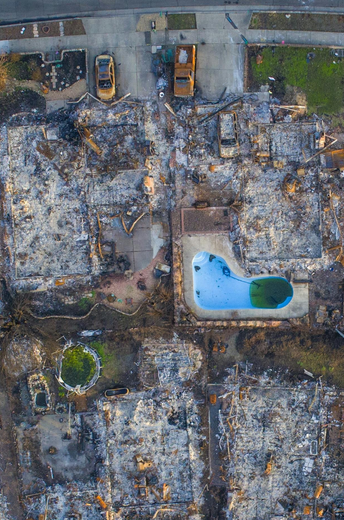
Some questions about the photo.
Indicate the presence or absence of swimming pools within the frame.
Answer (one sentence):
Yes, a swimming pool is visible in the scene.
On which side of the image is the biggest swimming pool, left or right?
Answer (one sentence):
It is on the right.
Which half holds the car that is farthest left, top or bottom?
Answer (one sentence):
It is in the top half that the car that is farthest left appears.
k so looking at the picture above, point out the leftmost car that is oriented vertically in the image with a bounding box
[94,53,116,100]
